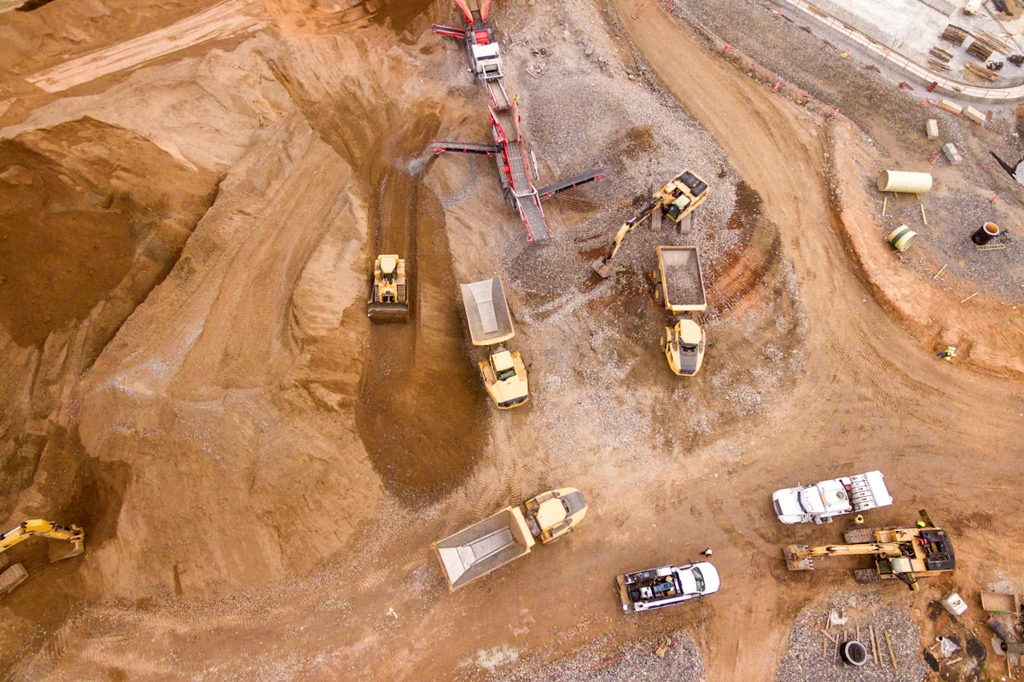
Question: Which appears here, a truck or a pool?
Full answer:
This aerial view contains a truck.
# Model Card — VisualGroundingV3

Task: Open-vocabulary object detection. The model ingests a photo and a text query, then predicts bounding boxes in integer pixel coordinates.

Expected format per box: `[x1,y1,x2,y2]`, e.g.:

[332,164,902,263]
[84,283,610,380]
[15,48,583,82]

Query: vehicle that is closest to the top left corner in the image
[363,254,413,324]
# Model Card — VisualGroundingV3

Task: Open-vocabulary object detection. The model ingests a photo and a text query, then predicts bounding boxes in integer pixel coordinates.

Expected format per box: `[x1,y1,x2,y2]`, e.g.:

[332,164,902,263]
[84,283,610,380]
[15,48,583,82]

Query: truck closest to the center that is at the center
[464,273,533,411]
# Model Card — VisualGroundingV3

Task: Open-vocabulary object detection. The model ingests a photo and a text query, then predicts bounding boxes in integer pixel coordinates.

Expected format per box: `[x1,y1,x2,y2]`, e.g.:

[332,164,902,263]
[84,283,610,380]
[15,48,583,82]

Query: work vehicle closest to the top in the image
[589,171,710,275]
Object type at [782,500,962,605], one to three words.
work vehicle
